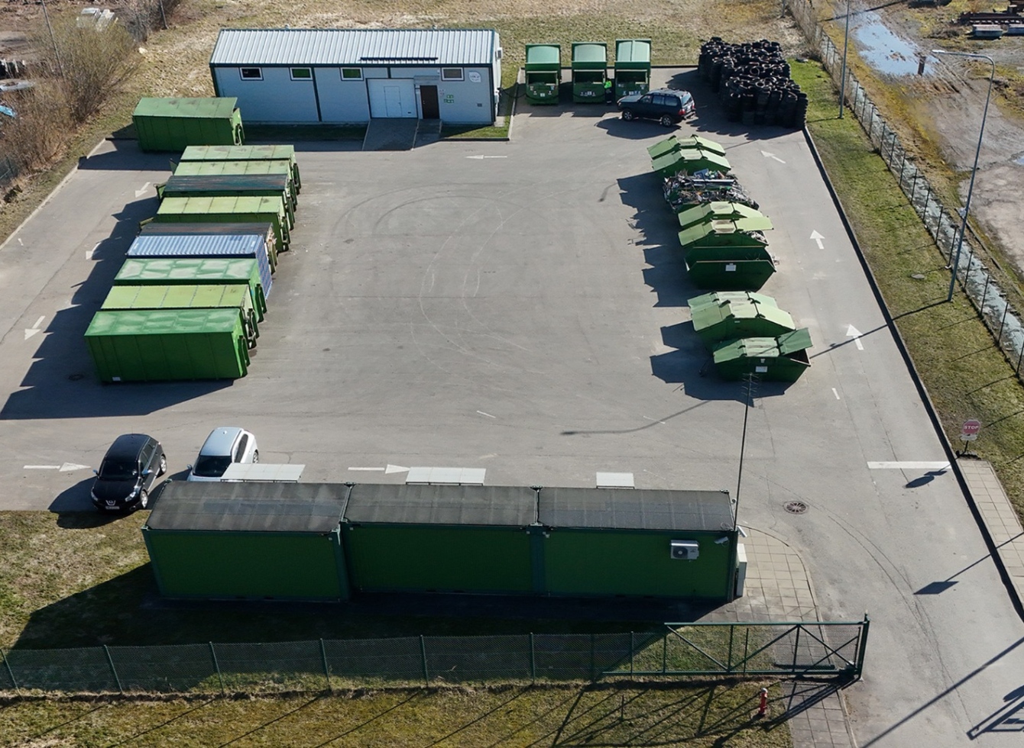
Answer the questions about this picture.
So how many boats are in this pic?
0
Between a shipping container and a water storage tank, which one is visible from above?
shipping container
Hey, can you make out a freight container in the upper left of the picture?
Yes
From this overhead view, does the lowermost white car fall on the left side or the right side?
left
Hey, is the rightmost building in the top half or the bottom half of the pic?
bottom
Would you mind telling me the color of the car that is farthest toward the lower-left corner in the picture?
black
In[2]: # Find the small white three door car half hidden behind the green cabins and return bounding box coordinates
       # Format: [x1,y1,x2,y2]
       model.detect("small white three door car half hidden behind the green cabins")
[184,424,254,483]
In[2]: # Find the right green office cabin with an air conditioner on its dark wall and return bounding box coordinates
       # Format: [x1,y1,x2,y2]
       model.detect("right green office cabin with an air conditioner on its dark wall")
[537,472,736,599]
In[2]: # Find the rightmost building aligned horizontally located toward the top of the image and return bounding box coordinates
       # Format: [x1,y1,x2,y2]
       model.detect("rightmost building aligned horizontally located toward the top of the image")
[208,24,504,122]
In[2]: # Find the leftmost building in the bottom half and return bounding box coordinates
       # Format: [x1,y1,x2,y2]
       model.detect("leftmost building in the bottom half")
[139,467,354,603]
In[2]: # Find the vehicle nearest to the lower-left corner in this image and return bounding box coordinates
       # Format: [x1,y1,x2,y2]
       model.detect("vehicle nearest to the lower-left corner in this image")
[89,427,167,514]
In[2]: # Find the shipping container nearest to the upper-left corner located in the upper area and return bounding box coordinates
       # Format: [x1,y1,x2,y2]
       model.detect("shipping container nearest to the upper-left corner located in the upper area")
[134,98,247,149]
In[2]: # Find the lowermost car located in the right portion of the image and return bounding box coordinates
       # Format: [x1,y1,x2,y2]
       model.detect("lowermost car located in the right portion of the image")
[616,87,694,125]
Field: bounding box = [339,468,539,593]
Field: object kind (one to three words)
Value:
building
